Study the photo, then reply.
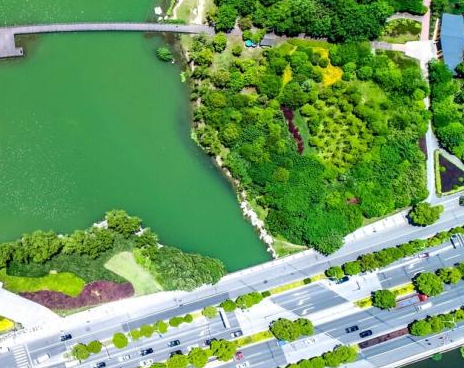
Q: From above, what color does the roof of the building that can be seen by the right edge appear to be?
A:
blue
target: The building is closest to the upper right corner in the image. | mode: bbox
[431,14,464,76]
